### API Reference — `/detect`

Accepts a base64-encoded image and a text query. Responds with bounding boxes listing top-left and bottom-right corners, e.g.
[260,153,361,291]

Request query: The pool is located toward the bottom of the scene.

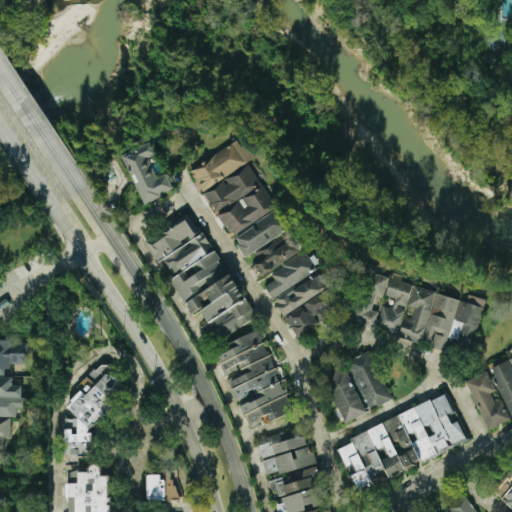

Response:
[72,307,96,340]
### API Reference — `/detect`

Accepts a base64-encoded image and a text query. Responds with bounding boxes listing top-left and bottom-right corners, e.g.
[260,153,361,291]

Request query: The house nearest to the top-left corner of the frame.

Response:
[122,143,172,202]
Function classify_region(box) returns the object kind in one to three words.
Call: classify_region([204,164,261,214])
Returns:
house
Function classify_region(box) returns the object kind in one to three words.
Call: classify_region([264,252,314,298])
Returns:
house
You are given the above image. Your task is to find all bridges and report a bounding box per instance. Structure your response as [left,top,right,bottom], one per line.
[0,50,49,150]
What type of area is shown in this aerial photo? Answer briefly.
residential area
